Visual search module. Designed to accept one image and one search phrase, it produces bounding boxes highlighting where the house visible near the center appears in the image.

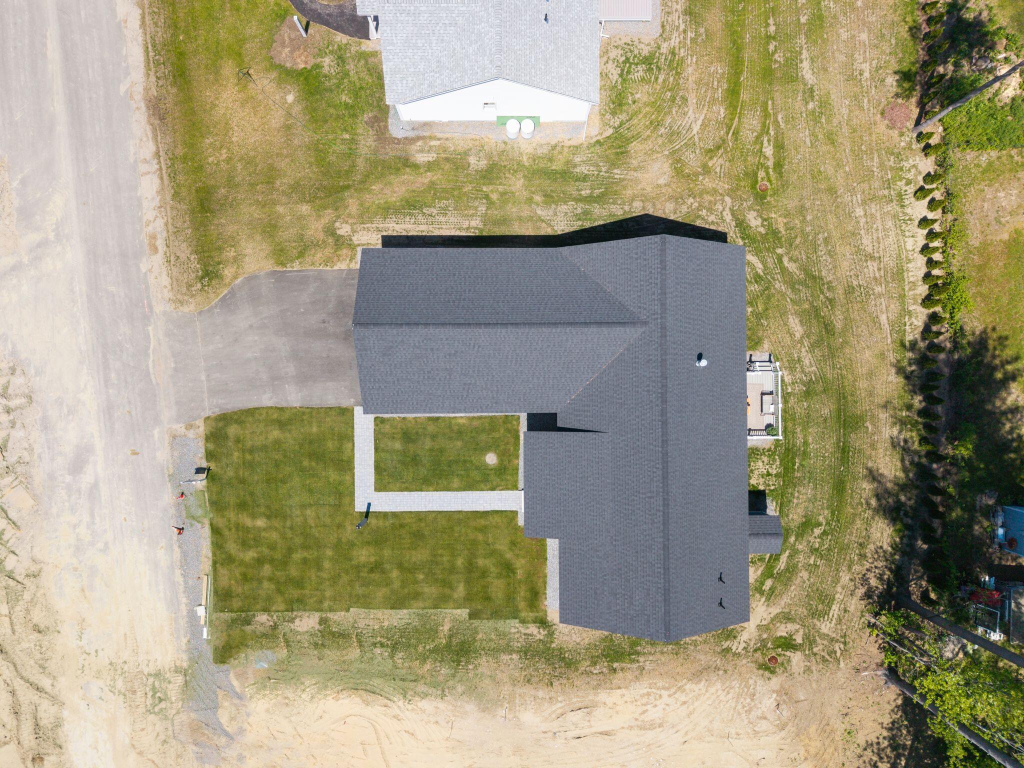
[351,235,788,642]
